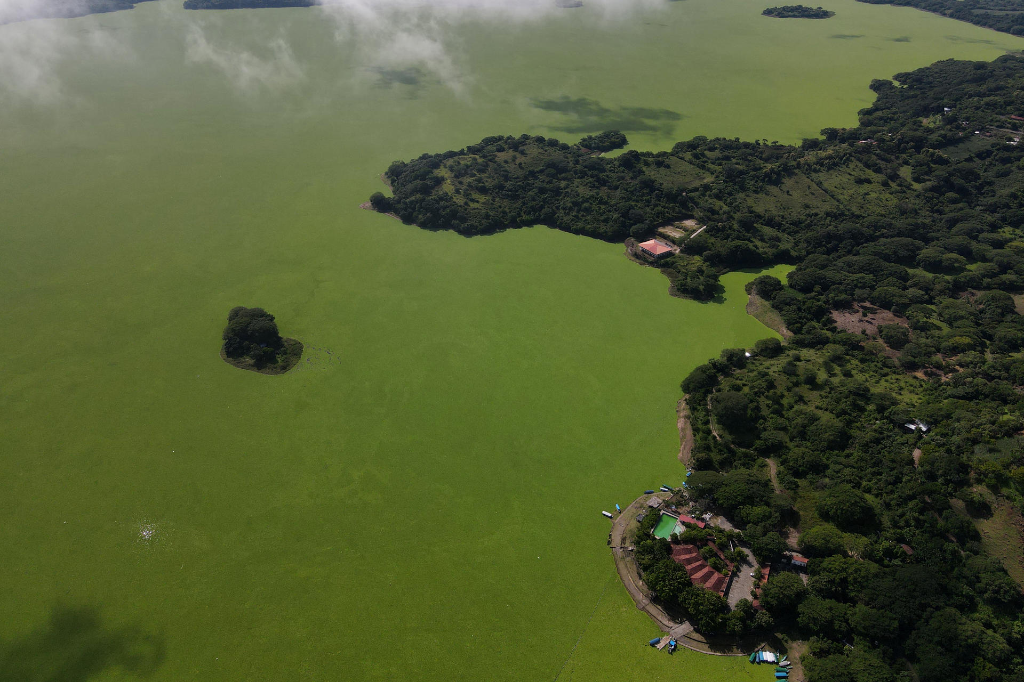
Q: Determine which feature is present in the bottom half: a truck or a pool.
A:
pool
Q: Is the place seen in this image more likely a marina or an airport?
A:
marina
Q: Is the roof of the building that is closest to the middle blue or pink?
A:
pink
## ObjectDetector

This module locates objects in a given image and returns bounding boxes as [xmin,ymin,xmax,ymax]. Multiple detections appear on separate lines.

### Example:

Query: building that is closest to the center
[639,239,671,259]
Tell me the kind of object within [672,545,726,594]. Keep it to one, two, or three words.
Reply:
building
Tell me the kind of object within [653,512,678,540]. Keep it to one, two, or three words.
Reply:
swimming pool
